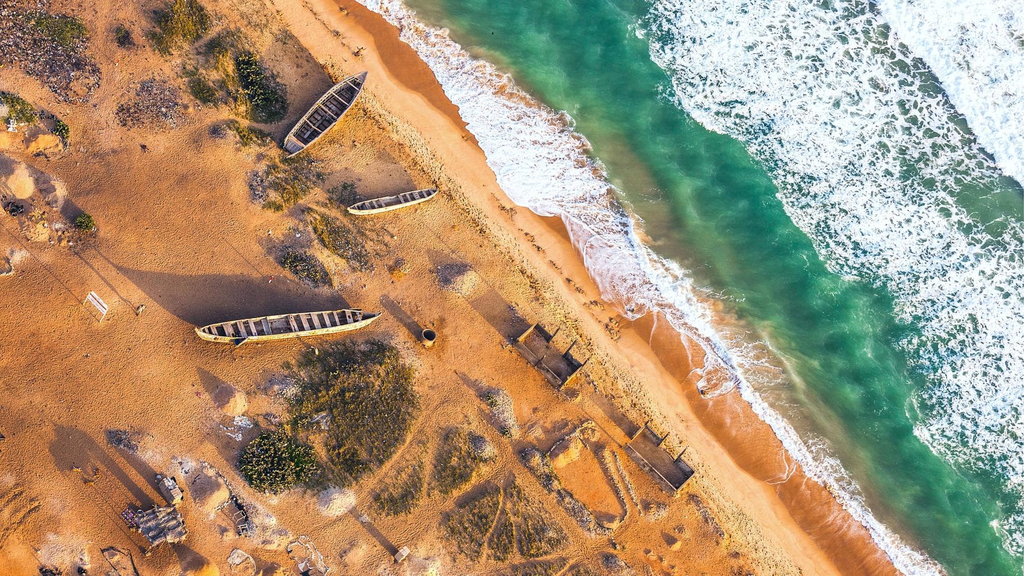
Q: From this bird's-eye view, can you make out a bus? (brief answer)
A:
No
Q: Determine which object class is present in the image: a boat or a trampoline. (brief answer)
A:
boat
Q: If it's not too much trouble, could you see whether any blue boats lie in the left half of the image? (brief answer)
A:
No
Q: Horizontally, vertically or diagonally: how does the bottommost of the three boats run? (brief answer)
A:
horizontally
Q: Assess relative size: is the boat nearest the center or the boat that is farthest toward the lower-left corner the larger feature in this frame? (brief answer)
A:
the boat that is farthest toward the lower-left corner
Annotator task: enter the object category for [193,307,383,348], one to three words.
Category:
boat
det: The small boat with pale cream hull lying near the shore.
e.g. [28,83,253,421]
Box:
[346,188,440,213]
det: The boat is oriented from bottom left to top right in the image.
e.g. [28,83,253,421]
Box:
[280,70,369,162]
